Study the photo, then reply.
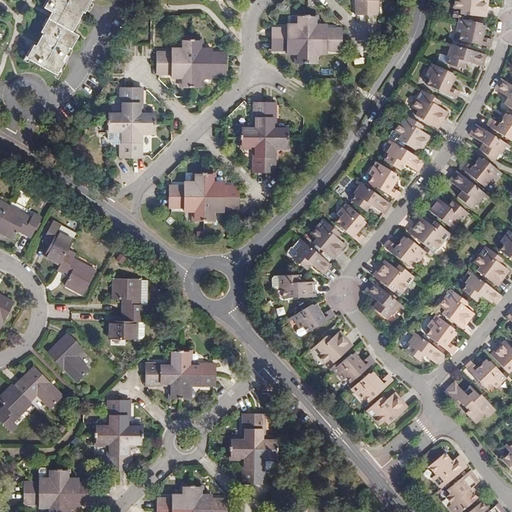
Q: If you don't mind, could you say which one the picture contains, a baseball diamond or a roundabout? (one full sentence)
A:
Of the two, only a roundabout appears.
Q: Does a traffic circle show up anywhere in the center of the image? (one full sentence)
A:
Yes, a traffic circle is visible in the center of the image.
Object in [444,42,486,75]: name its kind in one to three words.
house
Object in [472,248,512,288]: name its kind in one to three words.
house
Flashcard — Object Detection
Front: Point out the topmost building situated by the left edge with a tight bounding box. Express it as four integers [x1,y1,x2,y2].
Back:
[24,0,96,76]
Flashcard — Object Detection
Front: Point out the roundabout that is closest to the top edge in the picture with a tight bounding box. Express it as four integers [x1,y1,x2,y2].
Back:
[181,248,246,322]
